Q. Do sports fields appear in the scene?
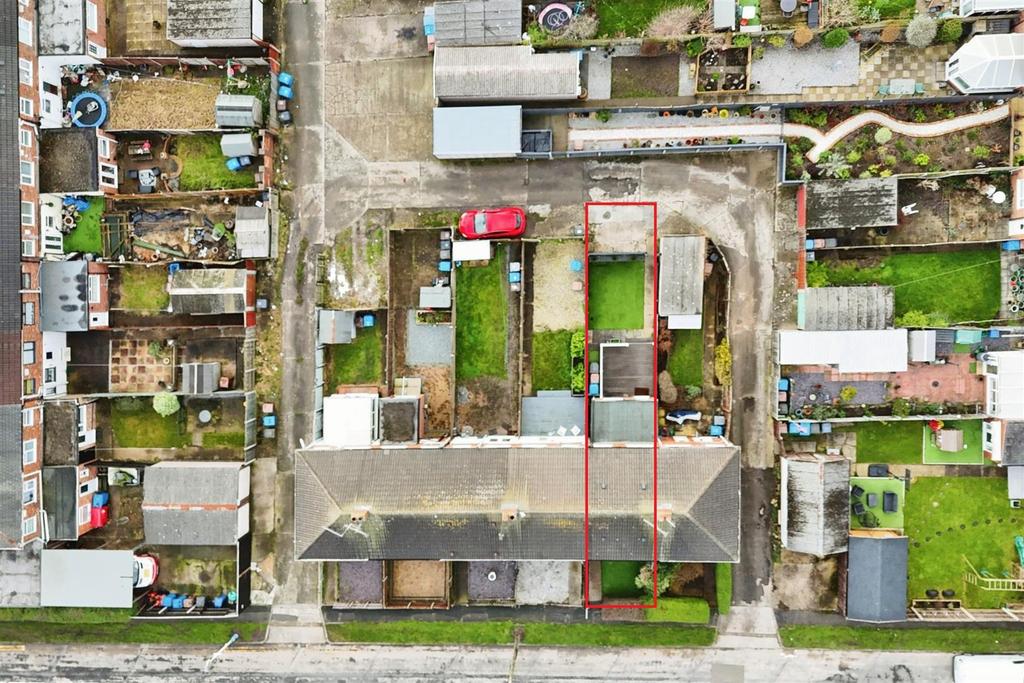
No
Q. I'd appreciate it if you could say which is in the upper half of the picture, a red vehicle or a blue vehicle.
red vehicle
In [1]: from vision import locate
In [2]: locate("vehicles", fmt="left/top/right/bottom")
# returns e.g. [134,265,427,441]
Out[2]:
[460,206,527,240]
[952,654,1024,683]
[134,554,162,583]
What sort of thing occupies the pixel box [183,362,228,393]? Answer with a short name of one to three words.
shed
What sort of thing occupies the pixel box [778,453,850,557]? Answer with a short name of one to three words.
building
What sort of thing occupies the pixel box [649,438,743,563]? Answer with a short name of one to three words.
house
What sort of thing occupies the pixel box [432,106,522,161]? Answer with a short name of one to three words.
building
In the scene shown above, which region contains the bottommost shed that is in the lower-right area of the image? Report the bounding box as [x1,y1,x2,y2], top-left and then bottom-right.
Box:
[838,531,908,622]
